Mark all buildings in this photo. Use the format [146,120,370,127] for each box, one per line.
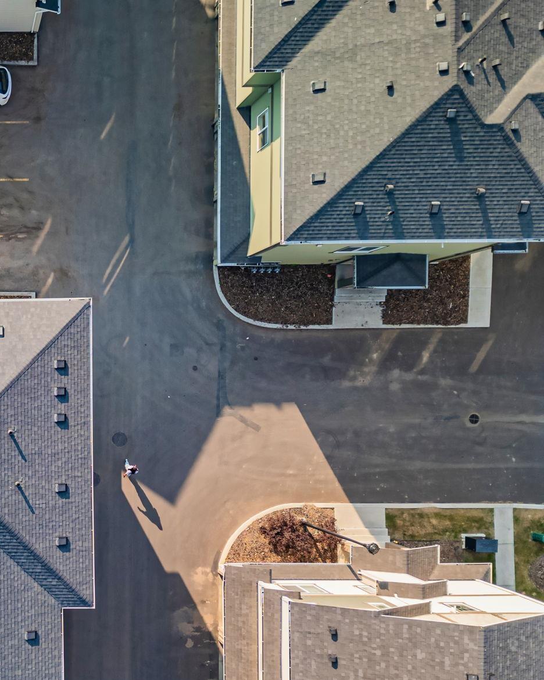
[207,0,544,288]
[0,0,62,35]
[216,537,544,680]
[0,295,98,680]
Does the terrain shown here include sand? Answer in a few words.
No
